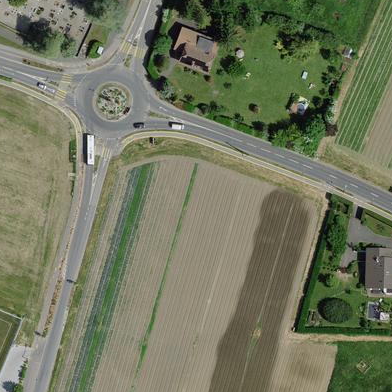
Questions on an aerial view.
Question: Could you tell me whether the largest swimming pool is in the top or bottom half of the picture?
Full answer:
The largest swimming pool sits in the bottom half of the picture.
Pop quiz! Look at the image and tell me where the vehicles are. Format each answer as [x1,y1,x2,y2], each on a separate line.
[171,124,184,130]
[134,124,145,128]
[88,135,96,166]
[37,83,48,90]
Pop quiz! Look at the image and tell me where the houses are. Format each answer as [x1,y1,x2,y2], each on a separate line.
[367,248,392,298]
[174,26,220,75]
